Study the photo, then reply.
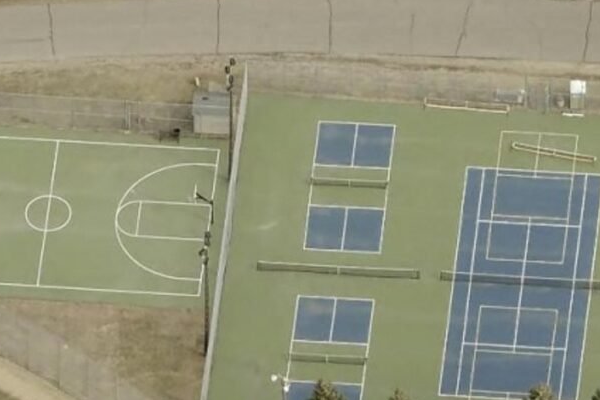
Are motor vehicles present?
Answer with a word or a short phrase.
No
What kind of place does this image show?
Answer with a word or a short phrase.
sports ground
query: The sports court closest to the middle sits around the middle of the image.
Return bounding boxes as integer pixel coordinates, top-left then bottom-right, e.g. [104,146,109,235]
[304,121,395,253]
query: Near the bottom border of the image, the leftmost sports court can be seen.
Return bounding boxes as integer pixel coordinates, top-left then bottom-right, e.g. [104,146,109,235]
[286,294,375,400]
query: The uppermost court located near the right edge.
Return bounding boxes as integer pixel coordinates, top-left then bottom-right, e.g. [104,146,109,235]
[486,131,578,263]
